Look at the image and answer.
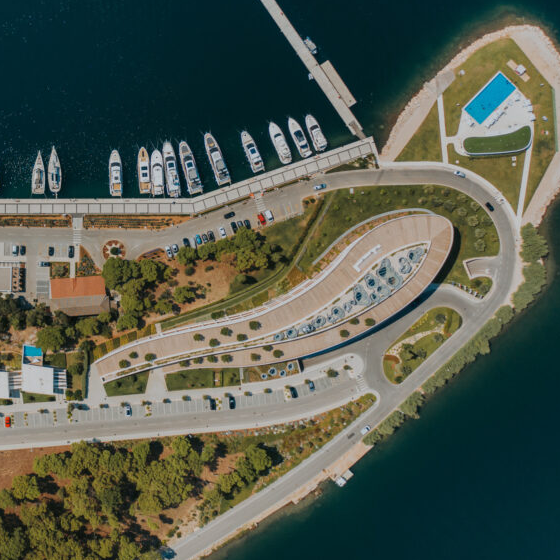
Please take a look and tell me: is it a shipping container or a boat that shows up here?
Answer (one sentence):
There is a boat in the scene.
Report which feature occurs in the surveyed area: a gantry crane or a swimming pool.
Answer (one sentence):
Looking from above, you can make out a swimming pool.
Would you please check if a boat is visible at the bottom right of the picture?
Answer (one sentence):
No, I see no boat at the bottom right of the picture.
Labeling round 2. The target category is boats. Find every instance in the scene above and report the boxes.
[150,145,164,198]
[305,113,328,153]
[242,131,267,174]
[201,130,231,187]
[32,151,45,197]
[109,144,123,198]
[136,143,152,198]
[306,40,314,51]
[158,132,181,198]
[266,121,293,166]
[178,139,202,196]
[48,140,62,198]
[287,117,313,159]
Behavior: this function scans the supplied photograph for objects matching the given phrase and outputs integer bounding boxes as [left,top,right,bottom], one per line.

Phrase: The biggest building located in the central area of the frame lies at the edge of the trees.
[95,213,454,383]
